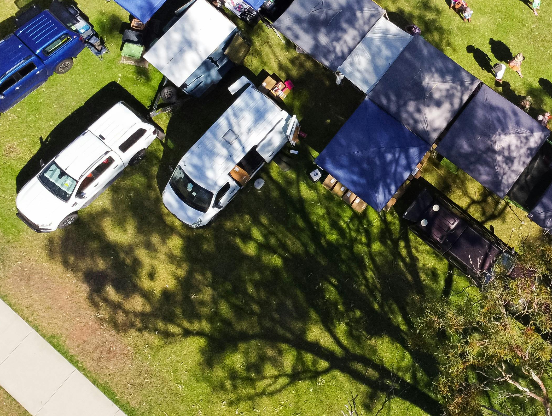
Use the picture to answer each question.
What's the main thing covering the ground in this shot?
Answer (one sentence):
The largest share of the image is taken up by grass.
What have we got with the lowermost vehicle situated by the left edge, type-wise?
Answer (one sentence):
What you see as the lowermost vehicle situated by the left edge is a truck.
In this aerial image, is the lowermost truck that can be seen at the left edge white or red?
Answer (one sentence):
The lowermost truck that can be seen at the left edge looks white in the image.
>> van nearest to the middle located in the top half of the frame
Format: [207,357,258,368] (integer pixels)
[162,76,298,218]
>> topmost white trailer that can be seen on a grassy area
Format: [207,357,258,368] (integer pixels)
[145,0,251,118]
